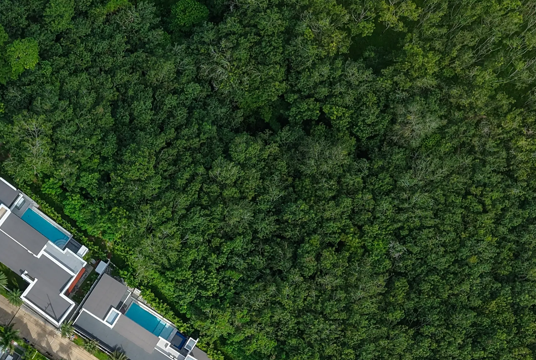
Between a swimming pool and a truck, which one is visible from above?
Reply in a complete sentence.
There is a swimming pool in the scene.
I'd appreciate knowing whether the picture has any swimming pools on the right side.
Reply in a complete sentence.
No, there is no swimming pool on the right side.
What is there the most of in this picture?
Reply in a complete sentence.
The largest share of the image is taken up by trees.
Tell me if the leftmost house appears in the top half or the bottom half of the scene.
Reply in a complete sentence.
Seen from above, the leftmost house lies in the bottom half of the view.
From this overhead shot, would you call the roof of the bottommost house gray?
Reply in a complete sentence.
Yes, the roof of the bottommost house is gray.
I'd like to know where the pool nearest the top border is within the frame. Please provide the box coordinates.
[19,205,74,251]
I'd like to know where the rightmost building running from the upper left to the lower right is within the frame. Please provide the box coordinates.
[72,274,198,360]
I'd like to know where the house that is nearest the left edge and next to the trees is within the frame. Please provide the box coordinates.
[0,178,88,326]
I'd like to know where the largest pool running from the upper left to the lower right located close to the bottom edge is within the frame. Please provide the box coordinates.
[123,301,179,343]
